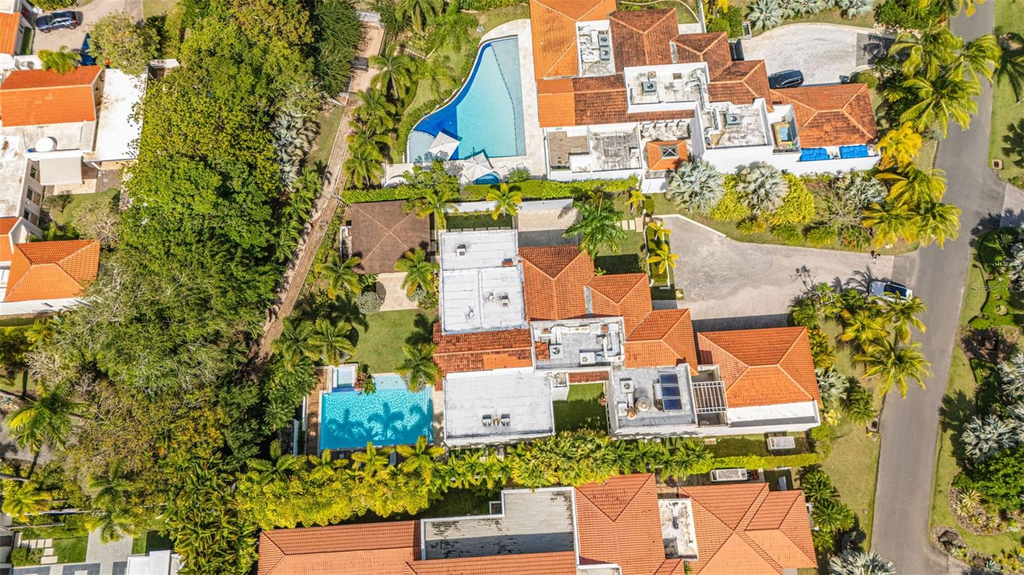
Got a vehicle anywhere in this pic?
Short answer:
Yes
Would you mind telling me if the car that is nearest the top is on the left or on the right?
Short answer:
left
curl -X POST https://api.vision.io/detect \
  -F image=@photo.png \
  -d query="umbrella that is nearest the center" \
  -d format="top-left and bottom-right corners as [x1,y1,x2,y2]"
[459,152,495,182]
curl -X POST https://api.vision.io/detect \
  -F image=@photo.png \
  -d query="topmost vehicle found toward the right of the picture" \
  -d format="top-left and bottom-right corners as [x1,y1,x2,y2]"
[767,69,807,89]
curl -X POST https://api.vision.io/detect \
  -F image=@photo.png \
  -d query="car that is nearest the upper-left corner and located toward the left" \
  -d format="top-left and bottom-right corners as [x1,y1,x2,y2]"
[37,10,77,31]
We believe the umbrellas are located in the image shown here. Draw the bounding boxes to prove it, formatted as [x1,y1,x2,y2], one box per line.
[426,135,461,163]
[459,152,495,182]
